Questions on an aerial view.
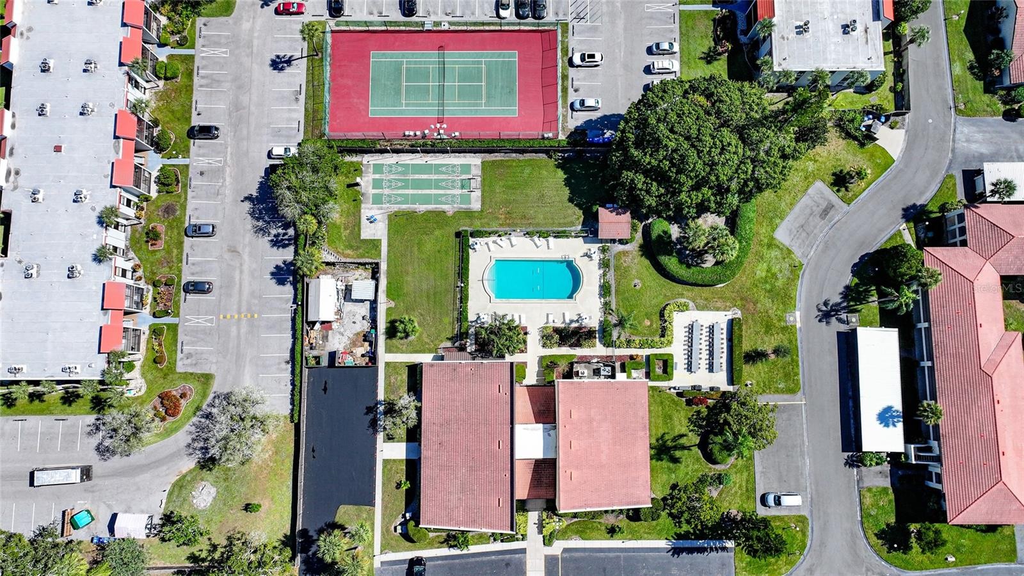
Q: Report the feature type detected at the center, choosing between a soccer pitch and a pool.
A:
pool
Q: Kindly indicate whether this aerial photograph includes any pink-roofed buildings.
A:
Yes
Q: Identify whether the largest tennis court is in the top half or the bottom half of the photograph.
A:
top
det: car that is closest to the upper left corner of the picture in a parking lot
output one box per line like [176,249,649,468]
[187,125,219,138]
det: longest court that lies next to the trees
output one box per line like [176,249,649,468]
[327,31,558,139]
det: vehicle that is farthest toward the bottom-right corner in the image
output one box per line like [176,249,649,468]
[766,494,802,510]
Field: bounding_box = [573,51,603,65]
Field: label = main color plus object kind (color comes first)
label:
white car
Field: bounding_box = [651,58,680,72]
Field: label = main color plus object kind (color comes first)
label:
white car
